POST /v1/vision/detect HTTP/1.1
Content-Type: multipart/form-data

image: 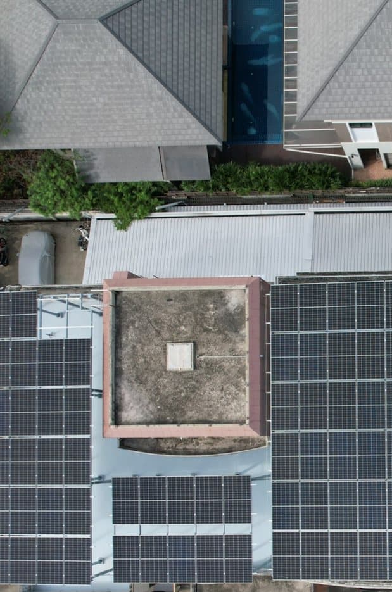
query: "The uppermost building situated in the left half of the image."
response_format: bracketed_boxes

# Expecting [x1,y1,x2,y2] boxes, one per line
[0,0,225,156]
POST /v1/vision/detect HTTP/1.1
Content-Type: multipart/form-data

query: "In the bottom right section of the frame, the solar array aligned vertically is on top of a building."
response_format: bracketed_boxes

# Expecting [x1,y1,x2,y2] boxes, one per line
[266,282,392,580]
